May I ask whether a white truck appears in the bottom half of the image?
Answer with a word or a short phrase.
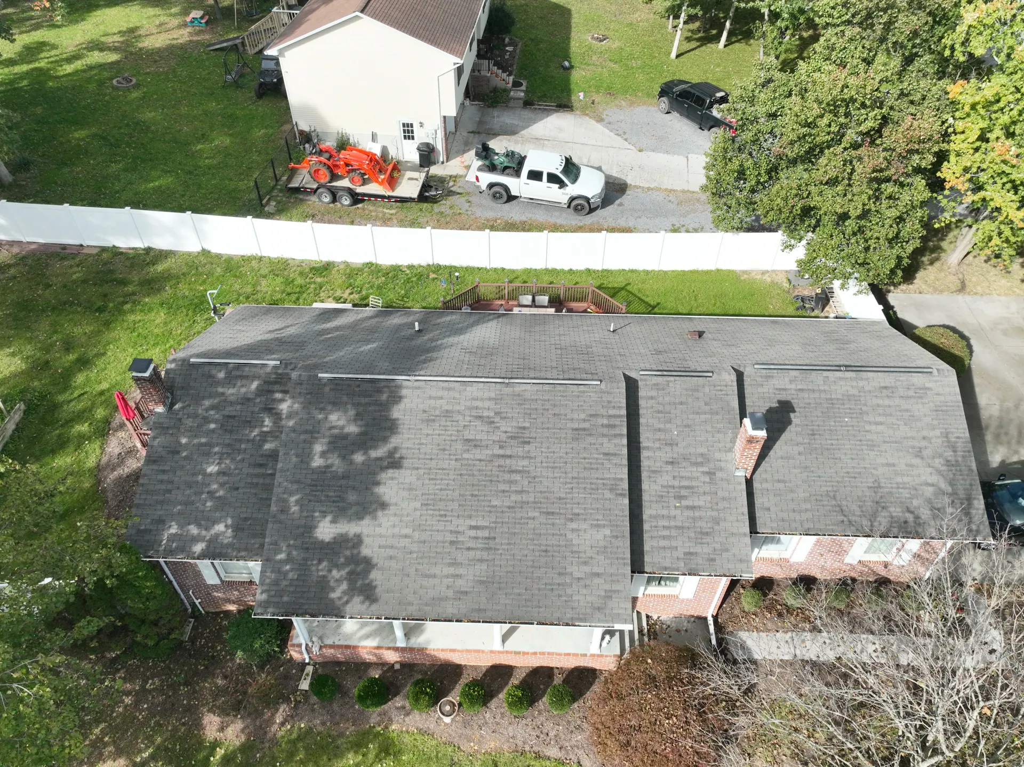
No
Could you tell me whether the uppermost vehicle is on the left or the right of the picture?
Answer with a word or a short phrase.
left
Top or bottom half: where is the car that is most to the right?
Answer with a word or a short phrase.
bottom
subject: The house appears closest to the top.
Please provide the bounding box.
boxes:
[266,0,520,163]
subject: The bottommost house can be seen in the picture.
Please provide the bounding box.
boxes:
[123,305,994,672]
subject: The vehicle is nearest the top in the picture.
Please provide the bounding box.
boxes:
[256,50,287,96]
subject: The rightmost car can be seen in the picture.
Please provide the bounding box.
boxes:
[981,473,1024,552]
